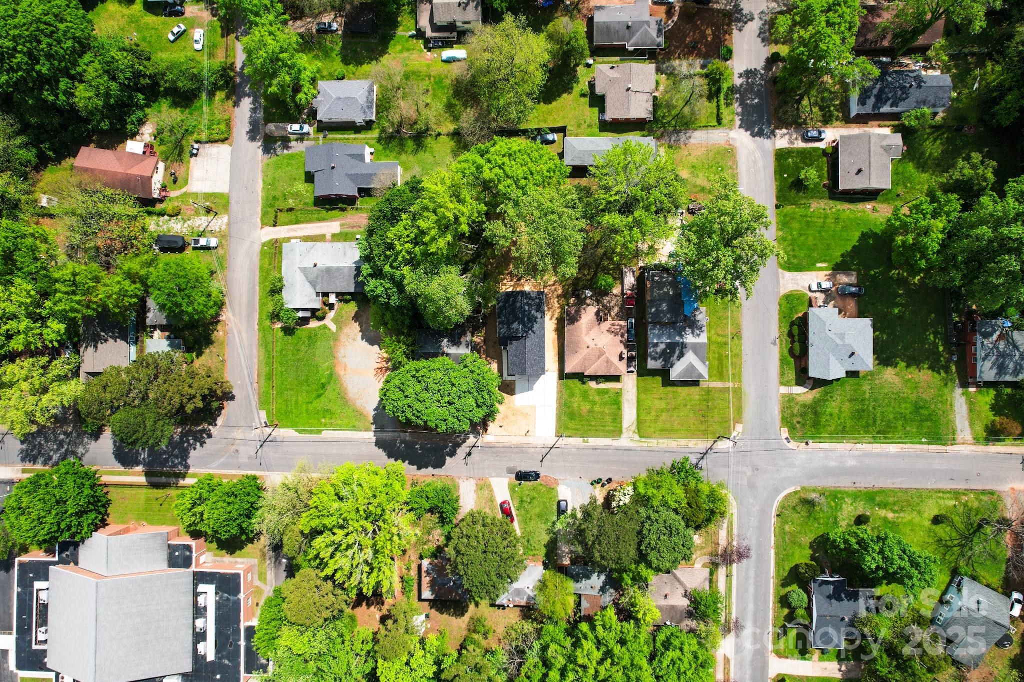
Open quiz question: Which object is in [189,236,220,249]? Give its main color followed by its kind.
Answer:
white vehicle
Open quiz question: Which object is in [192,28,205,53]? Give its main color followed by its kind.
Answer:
white vehicle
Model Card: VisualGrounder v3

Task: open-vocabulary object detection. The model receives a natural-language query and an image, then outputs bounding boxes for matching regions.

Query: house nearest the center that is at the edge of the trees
[497,281,545,380]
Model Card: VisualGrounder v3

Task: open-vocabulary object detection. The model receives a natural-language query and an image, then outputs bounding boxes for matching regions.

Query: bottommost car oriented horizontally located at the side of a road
[514,470,541,483]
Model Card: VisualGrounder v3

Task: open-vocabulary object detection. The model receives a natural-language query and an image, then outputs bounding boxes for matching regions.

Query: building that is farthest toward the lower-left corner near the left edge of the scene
[0,524,273,682]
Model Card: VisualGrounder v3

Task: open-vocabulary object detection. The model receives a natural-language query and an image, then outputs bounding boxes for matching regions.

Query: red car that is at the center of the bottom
[499,499,515,524]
